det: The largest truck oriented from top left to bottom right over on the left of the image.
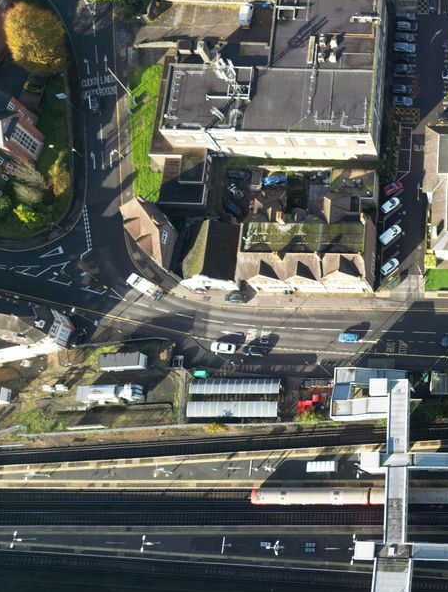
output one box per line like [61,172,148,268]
[125,271,166,301]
